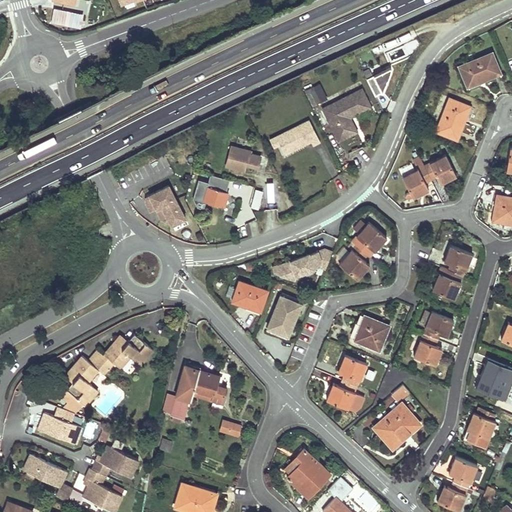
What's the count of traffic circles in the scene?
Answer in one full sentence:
The photo contains 2 traffic circles.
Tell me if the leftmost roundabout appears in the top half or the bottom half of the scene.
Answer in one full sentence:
The top half of the photo is where the leftmost roundabout is.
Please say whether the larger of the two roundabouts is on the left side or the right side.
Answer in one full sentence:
The larger of the two roundabouts appears in the left half of the scene.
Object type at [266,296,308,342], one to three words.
house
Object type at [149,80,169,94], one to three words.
vehicle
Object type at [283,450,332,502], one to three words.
house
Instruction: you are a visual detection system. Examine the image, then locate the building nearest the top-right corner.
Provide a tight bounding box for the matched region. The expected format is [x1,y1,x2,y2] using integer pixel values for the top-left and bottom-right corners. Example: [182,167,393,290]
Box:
[458,52,504,90]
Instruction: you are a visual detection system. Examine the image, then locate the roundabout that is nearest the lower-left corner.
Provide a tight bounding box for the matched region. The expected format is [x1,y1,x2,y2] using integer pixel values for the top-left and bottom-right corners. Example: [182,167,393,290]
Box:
[108,231,182,305]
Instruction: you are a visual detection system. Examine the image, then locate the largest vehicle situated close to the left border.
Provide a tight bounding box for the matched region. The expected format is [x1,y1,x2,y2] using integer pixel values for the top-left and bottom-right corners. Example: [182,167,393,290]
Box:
[18,137,56,160]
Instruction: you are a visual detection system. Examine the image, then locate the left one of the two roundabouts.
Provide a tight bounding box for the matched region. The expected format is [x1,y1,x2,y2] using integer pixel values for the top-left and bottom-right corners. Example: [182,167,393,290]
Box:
[14,38,64,88]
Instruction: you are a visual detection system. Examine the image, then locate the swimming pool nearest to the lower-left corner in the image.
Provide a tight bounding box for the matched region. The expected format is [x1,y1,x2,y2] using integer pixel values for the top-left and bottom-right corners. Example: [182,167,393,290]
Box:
[94,386,124,416]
